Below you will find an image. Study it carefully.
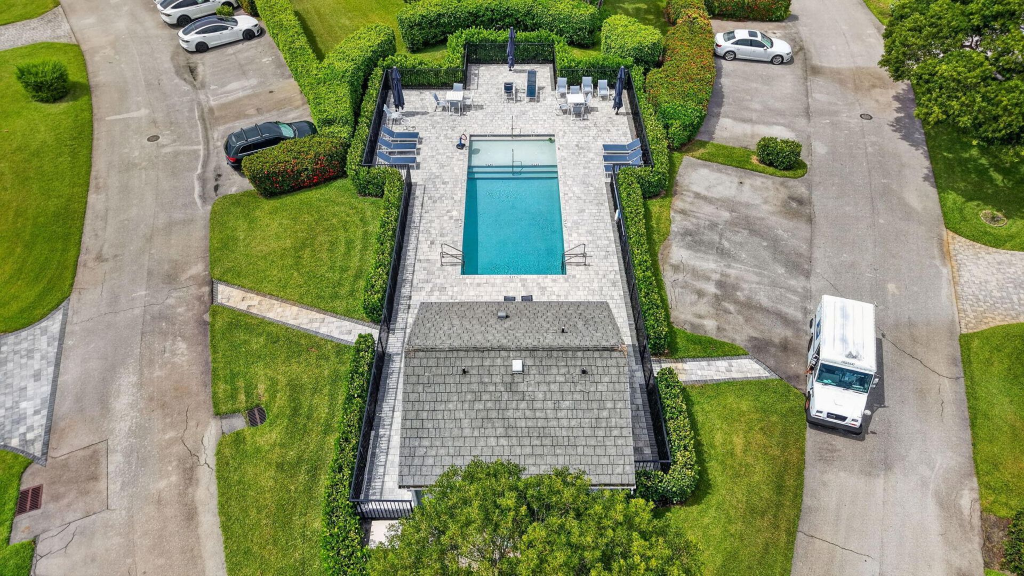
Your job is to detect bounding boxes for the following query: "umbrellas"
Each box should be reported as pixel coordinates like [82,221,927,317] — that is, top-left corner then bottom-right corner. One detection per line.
[391,65,407,112]
[610,65,626,116]
[506,25,516,72]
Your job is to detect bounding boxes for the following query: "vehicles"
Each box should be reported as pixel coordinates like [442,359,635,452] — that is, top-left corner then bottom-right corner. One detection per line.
[173,14,261,54]
[155,0,239,27]
[225,120,326,175]
[799,295,883,437]
[714,29,797,65]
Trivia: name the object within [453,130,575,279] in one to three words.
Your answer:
swimming pool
